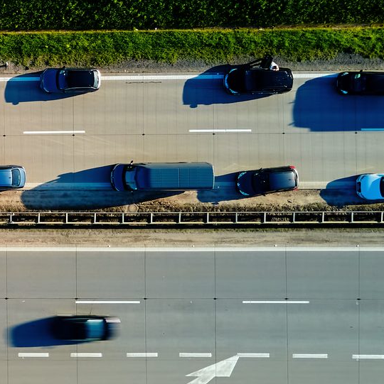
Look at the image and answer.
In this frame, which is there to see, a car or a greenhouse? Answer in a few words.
car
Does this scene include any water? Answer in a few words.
No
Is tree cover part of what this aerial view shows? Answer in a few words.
No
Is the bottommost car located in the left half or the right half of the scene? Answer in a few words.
left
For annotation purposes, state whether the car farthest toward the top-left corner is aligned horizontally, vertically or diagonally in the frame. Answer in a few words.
horizontally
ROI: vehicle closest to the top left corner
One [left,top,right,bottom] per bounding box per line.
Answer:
[40,64,101,94]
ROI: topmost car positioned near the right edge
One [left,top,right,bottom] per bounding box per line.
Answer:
[335,68,384,98]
